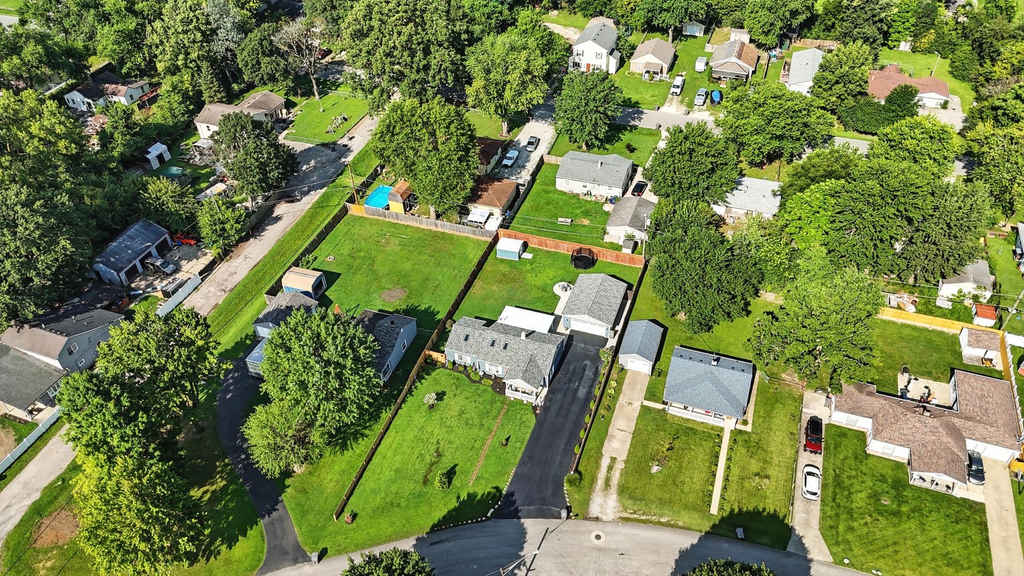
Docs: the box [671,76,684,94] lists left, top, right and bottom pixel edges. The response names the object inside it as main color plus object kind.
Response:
white vehicle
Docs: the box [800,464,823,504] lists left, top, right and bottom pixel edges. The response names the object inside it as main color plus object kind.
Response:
white car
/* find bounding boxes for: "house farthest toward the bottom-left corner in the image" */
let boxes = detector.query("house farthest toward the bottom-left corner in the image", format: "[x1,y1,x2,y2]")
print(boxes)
[0,346,74,421]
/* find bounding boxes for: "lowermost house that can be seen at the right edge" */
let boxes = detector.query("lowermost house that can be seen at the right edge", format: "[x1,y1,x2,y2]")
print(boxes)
[832,371,1022,500]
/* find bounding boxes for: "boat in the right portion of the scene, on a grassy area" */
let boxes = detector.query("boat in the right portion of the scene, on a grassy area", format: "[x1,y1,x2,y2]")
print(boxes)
[709,89,722,107]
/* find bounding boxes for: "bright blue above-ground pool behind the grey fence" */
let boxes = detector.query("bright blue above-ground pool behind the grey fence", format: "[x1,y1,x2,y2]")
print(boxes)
[367,186,396,211]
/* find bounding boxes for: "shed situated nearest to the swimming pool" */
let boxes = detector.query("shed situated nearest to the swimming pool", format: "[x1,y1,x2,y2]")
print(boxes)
[388,184,413,213]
